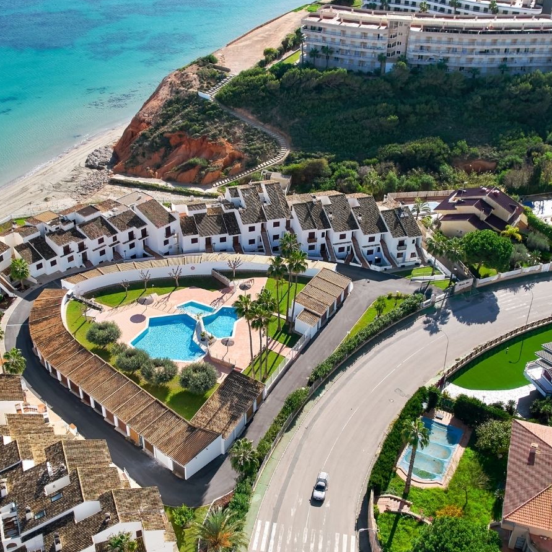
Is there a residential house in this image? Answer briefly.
Yes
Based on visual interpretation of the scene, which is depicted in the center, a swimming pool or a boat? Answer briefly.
swimming pool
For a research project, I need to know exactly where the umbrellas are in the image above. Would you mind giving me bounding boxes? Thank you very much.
[132,297,151,315]
[213,342,234,359]
[236,281,255,293]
